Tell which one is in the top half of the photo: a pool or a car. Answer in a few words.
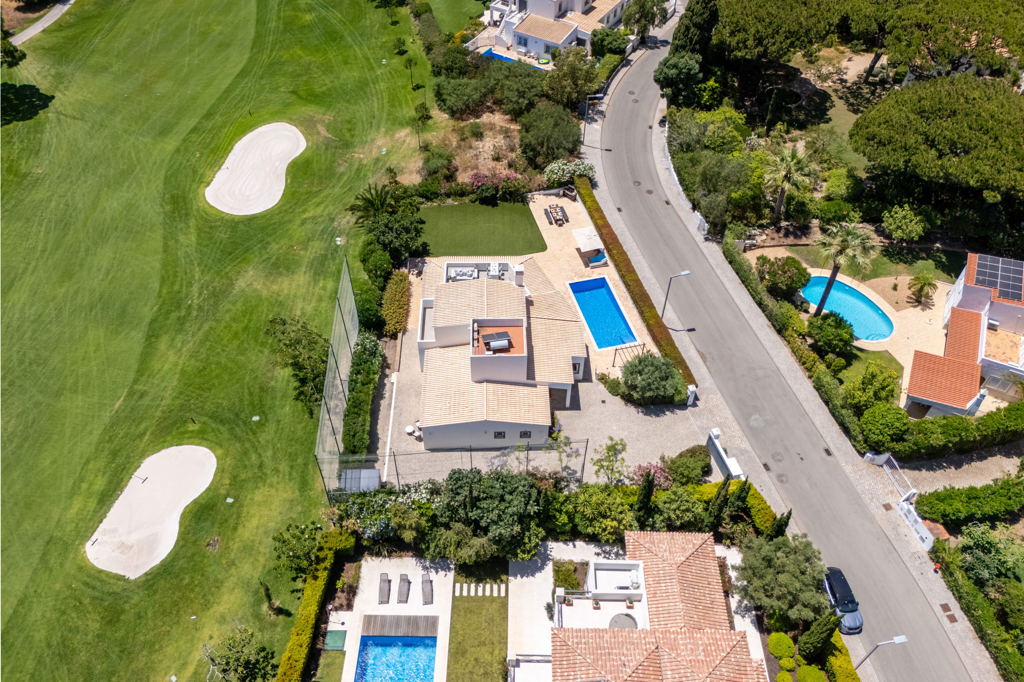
pool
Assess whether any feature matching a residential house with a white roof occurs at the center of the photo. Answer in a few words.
Yes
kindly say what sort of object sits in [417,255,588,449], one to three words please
house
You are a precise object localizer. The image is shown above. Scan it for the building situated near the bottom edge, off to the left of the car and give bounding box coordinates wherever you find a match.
[505,528,760,682]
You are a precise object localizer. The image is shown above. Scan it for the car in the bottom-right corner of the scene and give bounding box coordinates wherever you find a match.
[815,560,866,629]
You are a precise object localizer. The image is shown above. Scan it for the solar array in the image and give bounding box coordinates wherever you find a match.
[979,253,1024,292]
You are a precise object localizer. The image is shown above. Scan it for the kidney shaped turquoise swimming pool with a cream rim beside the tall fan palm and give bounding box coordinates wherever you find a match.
[798,273,899,343]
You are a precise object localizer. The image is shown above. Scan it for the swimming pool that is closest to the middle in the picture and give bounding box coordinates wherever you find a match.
[564,274,642,352]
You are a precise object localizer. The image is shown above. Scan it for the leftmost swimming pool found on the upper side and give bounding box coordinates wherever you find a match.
[477,50,556,78]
